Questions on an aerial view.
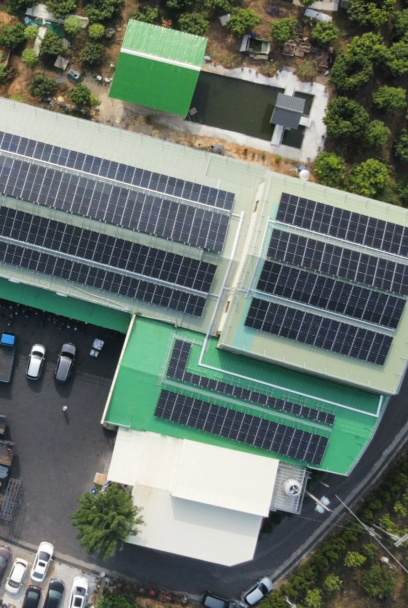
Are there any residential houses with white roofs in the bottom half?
Yes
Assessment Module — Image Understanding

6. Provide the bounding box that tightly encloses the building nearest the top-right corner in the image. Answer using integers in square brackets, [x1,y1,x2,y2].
[265,87,313,145]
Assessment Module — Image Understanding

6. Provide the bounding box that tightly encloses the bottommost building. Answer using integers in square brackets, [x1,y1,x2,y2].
[107,427,279,566]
